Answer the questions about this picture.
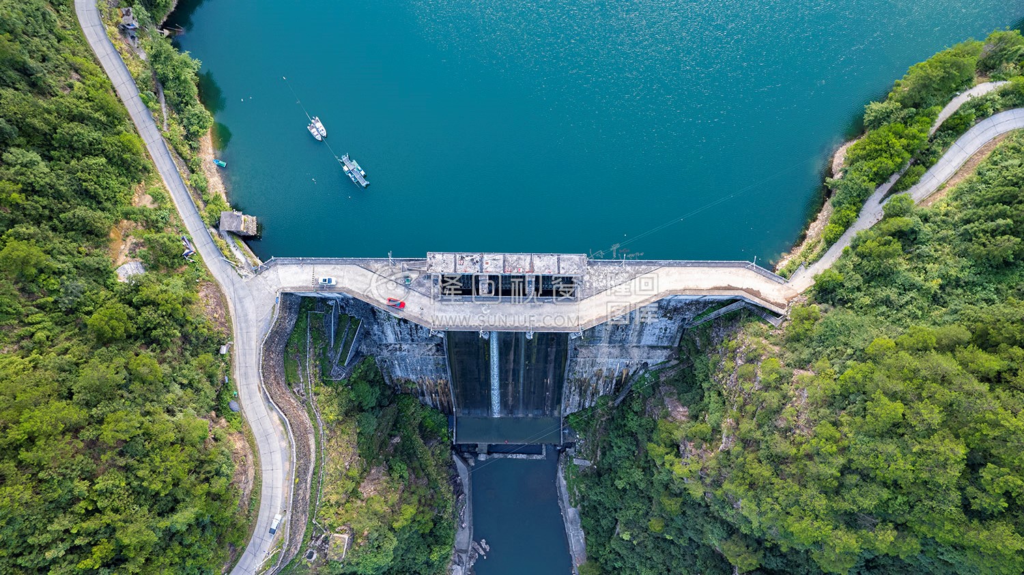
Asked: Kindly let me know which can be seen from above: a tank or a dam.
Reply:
dam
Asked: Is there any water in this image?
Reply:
Yes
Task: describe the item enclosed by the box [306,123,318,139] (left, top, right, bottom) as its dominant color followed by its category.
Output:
white boat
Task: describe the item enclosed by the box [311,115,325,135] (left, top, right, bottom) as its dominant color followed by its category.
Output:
white boat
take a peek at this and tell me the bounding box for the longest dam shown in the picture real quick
[251,258,789,447]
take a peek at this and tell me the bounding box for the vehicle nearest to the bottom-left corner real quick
[266,514,282,536]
